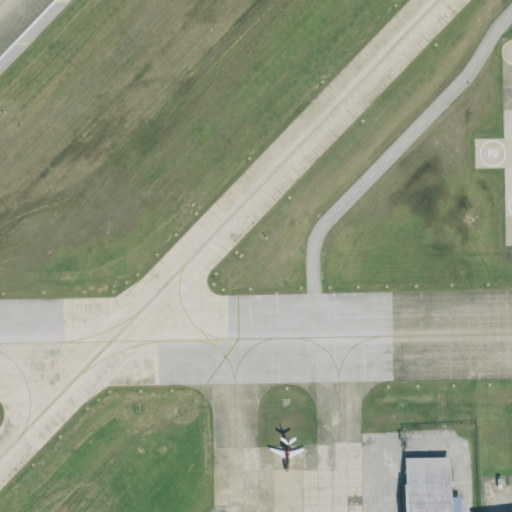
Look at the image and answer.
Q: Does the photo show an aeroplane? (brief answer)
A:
Yes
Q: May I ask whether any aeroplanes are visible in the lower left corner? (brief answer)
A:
No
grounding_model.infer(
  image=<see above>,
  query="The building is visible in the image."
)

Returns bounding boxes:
[406,458,462,512]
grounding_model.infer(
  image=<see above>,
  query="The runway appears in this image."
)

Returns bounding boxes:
[0,0,72,76]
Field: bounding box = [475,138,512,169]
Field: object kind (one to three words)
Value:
helipad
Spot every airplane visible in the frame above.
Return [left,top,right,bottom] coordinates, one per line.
[270,436,305,471]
